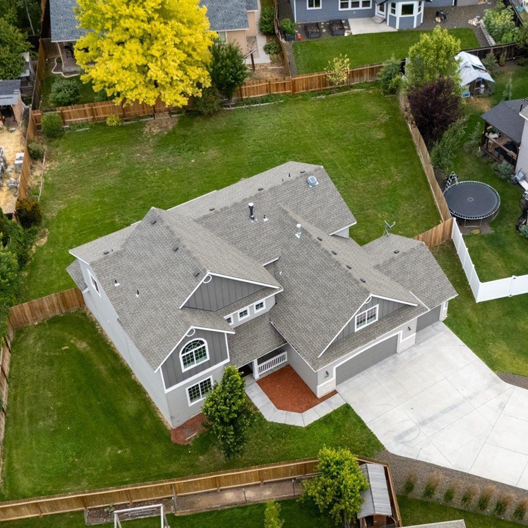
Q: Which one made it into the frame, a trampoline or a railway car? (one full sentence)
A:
Visible in the photo is a trampoline.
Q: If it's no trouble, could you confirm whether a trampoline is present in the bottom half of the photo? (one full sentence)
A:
No, in the bottom half of the photo there is no trampoline.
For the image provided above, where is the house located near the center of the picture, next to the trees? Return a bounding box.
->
[65,162,459,428]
